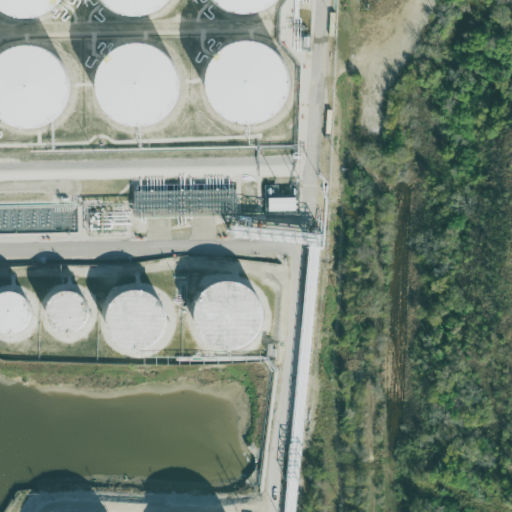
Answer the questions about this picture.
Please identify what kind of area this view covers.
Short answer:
industrial area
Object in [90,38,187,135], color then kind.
white storage tank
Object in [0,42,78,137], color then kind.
white storage tank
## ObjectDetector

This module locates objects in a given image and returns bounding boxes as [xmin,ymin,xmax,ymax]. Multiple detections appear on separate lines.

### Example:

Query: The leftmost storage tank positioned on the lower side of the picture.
[0,286,38,341]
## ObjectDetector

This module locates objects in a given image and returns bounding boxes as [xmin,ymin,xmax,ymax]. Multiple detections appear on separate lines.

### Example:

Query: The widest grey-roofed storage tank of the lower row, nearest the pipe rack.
[188,276,272,358]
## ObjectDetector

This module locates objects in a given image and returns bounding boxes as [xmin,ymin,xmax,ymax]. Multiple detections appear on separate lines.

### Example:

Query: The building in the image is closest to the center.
[268,198,298,212]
